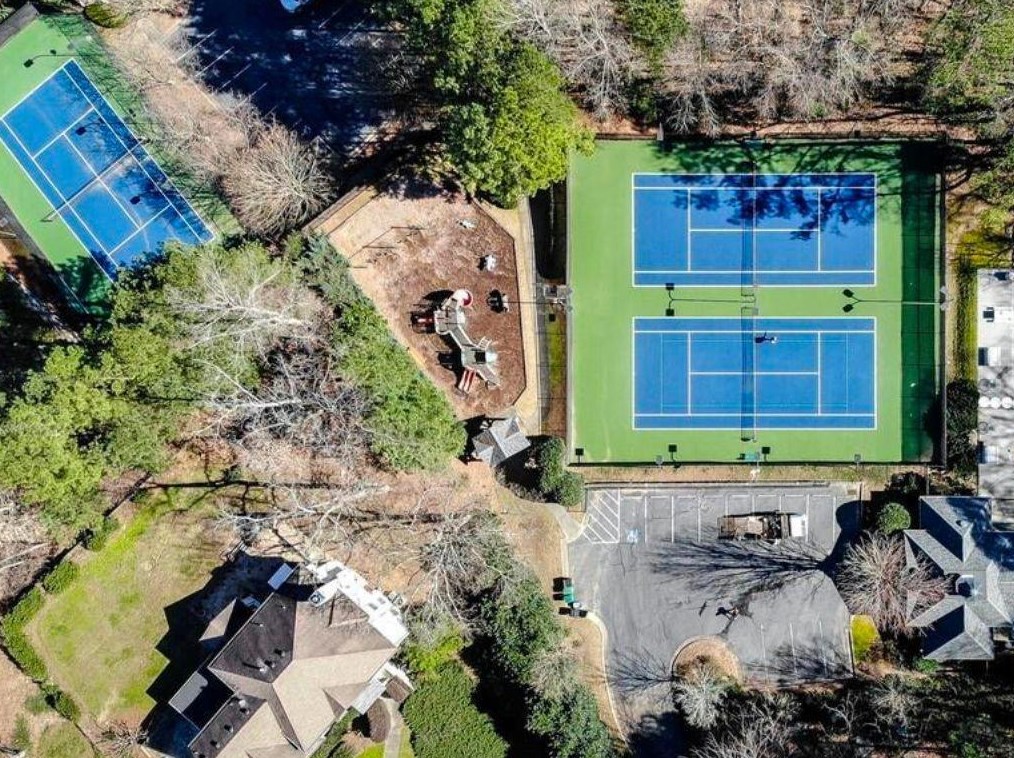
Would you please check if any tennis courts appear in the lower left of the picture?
No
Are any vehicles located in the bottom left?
No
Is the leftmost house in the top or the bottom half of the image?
bottom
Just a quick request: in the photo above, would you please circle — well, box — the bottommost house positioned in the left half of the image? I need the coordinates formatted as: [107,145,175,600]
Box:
[168,554,417,758]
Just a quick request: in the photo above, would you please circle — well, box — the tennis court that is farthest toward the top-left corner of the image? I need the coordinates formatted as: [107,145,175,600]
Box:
[0,15,261,358]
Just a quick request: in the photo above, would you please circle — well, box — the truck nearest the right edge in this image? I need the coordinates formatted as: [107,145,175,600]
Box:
[720,517,810,544]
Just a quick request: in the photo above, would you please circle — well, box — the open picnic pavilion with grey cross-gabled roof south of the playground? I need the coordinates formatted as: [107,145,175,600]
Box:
[469,414,534,469]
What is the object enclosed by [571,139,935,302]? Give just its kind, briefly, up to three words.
tennis court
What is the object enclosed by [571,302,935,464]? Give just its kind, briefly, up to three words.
tennis court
